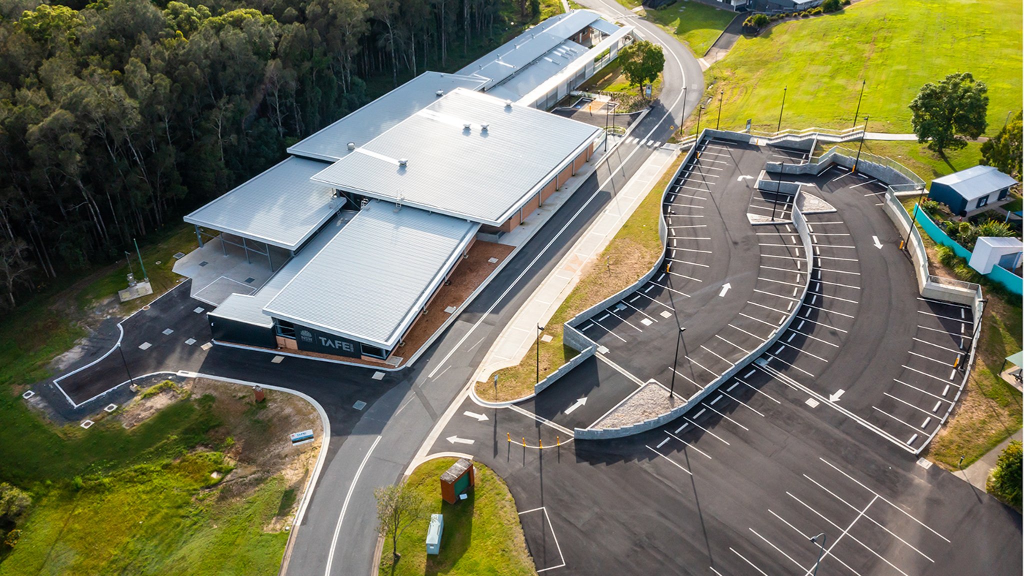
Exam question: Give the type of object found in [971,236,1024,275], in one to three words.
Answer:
building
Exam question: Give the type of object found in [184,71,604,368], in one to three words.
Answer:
building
